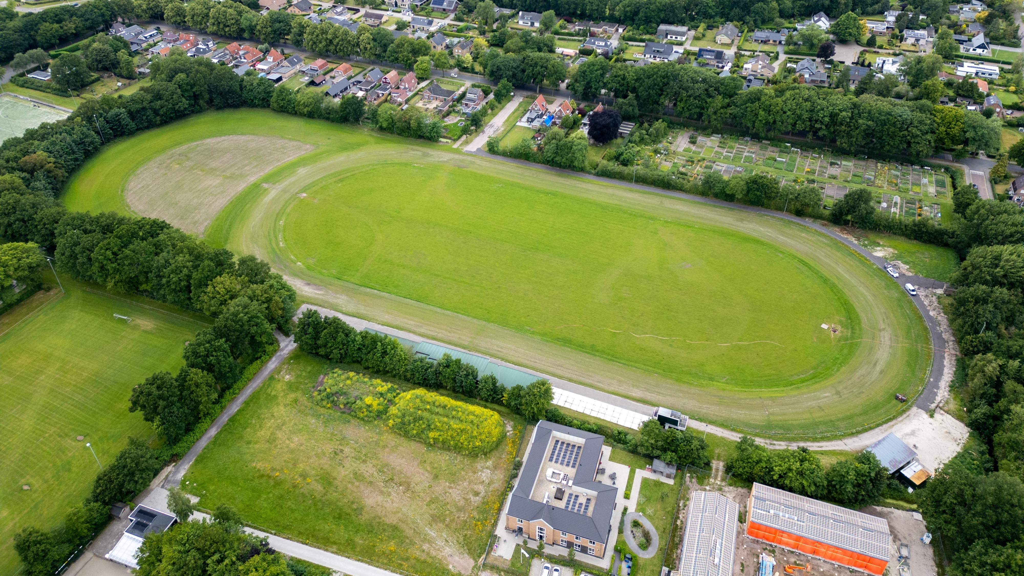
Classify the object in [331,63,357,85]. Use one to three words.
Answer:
house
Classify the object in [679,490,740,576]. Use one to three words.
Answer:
house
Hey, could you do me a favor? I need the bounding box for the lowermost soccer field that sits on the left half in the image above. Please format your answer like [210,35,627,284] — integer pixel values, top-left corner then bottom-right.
[0,285,238,576]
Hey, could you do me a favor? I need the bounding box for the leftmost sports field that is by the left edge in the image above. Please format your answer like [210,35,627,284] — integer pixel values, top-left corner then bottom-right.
[0,97,68,140]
